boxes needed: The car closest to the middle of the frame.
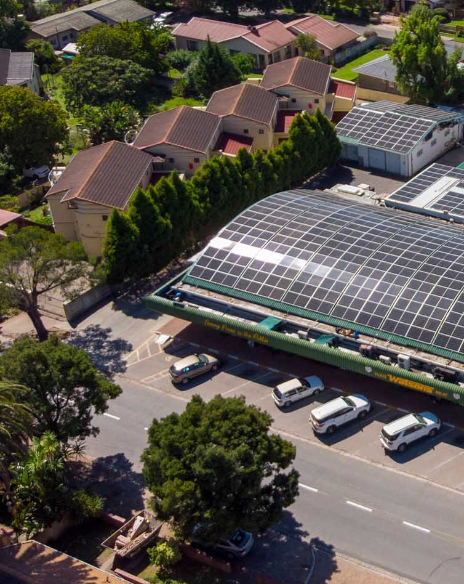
[160,347,224,381]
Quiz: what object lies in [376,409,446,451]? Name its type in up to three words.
car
